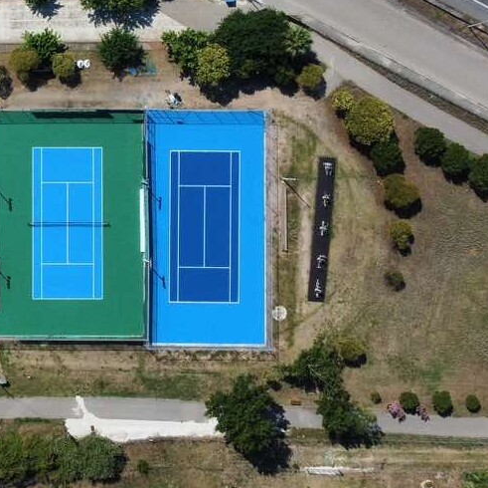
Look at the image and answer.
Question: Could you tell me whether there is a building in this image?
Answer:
No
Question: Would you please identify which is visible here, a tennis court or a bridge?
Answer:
tennis court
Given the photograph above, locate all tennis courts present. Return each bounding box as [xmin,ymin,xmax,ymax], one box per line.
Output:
[150,113,265,345]
[0,114,144,336]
